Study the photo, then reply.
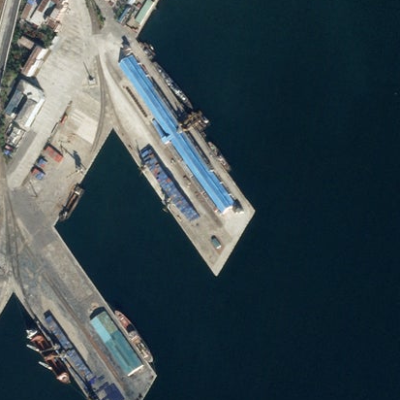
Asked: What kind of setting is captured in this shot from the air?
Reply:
port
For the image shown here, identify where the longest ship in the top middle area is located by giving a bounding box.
[153,63,193,109]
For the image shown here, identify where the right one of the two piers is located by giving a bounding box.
[113,39,255,276]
